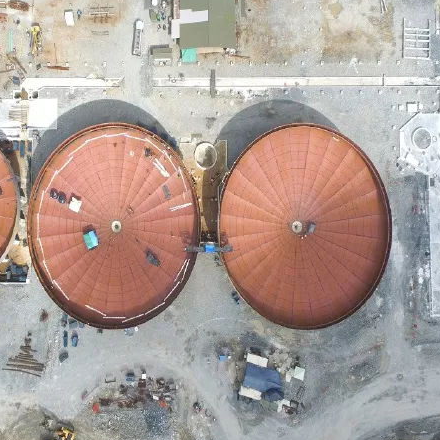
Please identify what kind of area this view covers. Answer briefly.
industrial area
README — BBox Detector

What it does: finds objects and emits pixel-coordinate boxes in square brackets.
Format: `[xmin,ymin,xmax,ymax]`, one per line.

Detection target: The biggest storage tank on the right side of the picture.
[216,123,392,330]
